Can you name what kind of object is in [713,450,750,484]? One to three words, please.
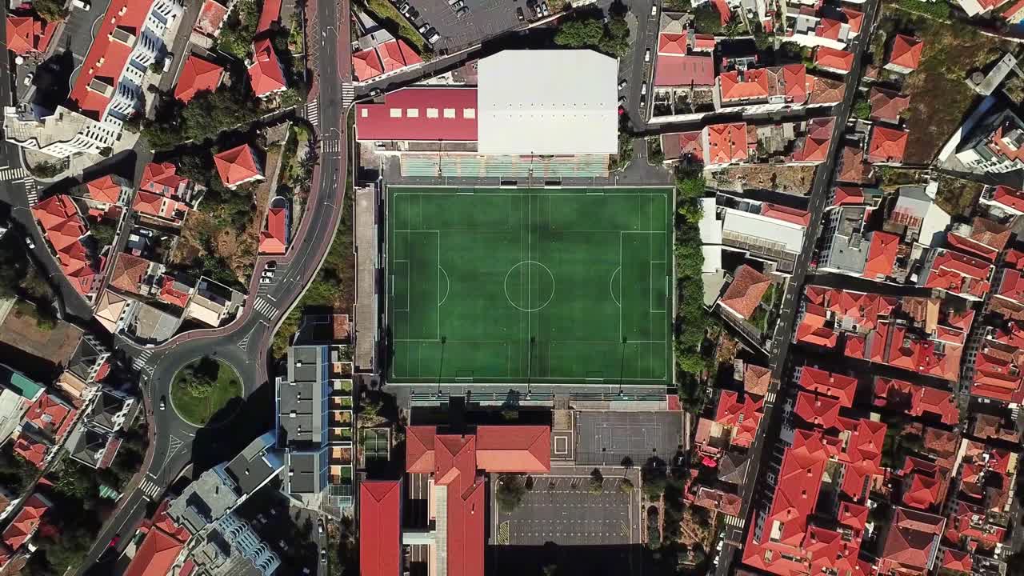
house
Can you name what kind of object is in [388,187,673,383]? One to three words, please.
soccer field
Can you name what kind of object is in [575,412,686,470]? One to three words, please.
sports court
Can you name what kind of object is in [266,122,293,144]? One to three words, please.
shed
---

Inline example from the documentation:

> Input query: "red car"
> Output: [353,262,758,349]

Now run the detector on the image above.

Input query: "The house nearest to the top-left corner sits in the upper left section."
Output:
[6,17,64,54]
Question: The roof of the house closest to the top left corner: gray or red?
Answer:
red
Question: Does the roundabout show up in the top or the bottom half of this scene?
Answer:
bottom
